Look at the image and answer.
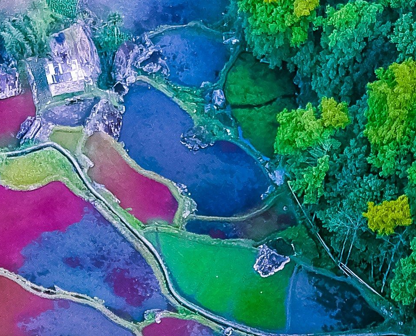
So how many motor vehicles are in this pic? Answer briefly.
none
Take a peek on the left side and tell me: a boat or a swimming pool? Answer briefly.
swimming pool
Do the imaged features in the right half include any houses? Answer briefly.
No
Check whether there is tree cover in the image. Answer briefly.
Yes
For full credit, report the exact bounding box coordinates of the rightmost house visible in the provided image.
[48,27,104,104]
